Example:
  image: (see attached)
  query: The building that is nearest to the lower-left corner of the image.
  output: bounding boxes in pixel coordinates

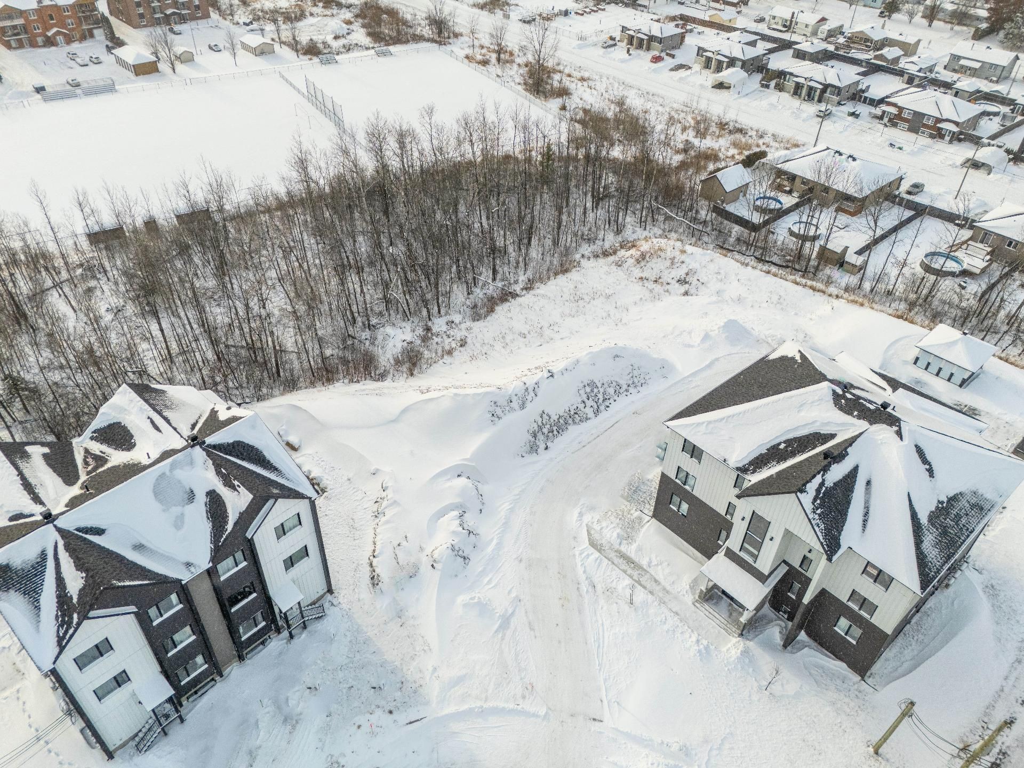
[0,380,332,759]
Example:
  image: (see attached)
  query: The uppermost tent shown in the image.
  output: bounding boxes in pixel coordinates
[713,70,751,94]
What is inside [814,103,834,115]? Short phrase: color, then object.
white vehicle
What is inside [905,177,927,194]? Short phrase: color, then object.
gray car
